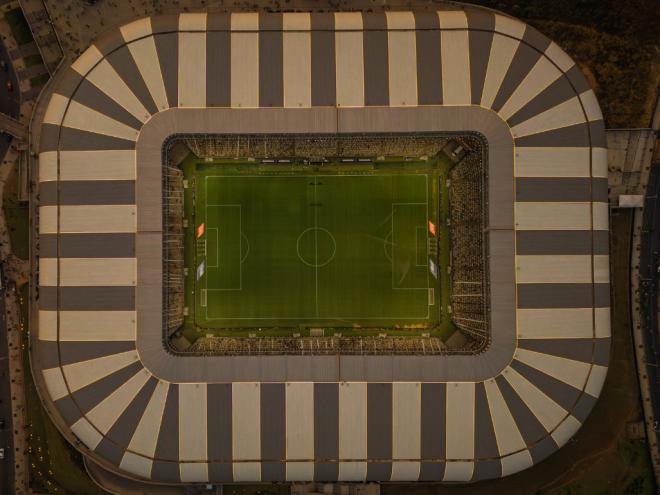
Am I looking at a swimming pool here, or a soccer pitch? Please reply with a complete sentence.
This aerial view contains a soccer pitch.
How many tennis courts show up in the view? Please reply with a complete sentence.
I count no tennis courts.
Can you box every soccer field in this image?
[170,148,465,347]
